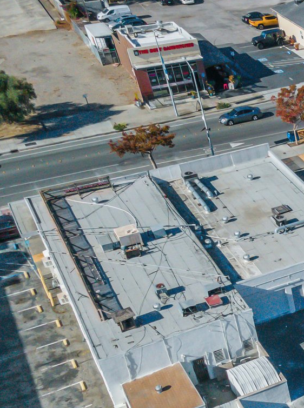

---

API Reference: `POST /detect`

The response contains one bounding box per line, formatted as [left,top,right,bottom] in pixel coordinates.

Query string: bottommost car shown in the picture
[0,221,17,238]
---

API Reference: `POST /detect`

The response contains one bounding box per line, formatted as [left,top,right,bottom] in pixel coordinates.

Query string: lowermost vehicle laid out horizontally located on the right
[218,105,264,125]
